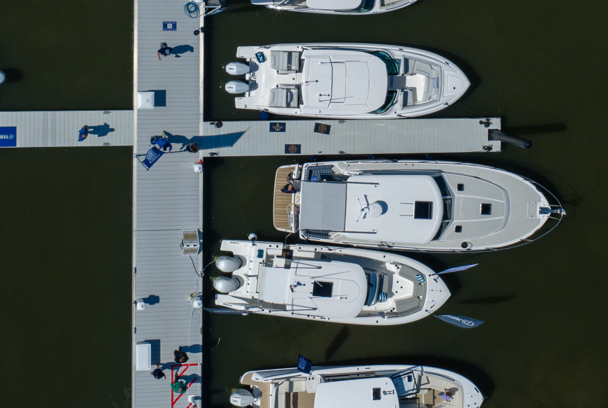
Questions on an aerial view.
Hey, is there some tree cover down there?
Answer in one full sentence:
No, the picture contains no tree cover.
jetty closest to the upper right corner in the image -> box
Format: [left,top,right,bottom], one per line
[204,117,501,157]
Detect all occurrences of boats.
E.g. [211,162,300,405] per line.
[229,360,487,408]
[224,42,471,120]
[273,159,567,253]
[212,238,451,326]
[0,70,7,85]
[250,0,415,15]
